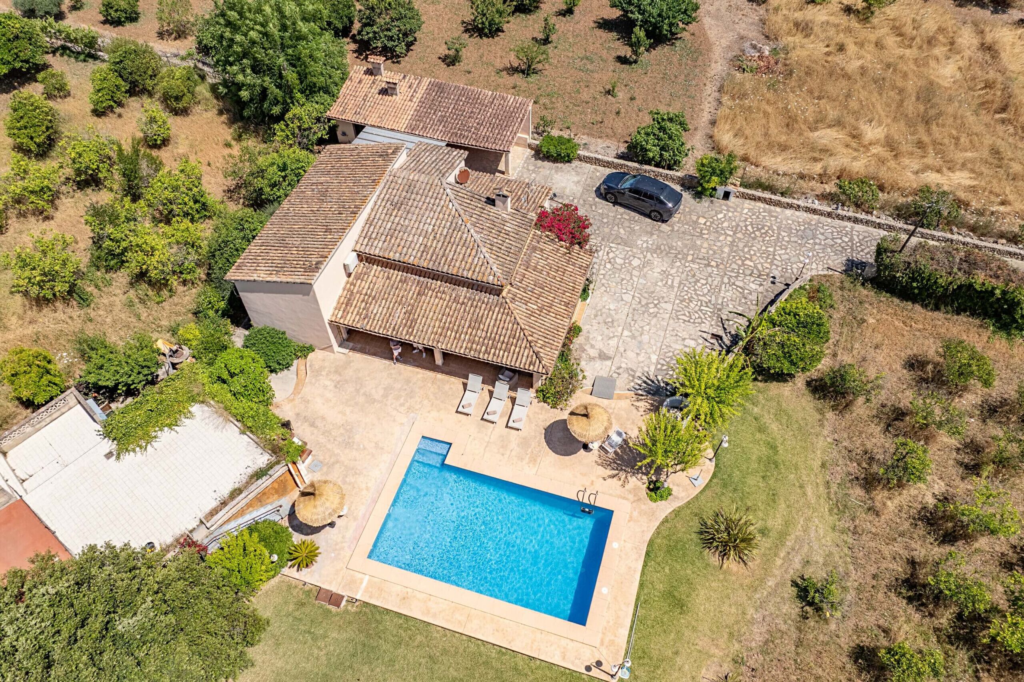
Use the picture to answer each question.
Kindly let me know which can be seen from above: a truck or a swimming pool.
swimming pool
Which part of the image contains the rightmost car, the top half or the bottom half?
top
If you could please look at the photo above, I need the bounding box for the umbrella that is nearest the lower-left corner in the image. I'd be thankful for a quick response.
[294,482,347,532]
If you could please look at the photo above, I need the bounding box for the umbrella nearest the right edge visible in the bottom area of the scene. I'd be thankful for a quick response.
[567,407,612,455]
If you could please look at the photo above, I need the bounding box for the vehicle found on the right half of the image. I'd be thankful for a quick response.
[599,170,687,223]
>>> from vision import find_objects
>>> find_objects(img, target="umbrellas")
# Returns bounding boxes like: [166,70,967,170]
[567,407,612,455]
[294,482,347,532]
